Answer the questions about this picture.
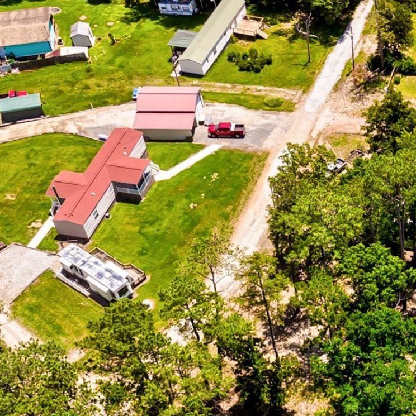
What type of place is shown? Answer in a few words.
residential area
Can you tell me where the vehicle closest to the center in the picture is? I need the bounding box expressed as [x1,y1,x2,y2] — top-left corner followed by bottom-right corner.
[205,123,246,139]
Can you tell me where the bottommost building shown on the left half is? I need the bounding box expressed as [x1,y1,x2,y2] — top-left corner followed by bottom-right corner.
[46,128,163,241]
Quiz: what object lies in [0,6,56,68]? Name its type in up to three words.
house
